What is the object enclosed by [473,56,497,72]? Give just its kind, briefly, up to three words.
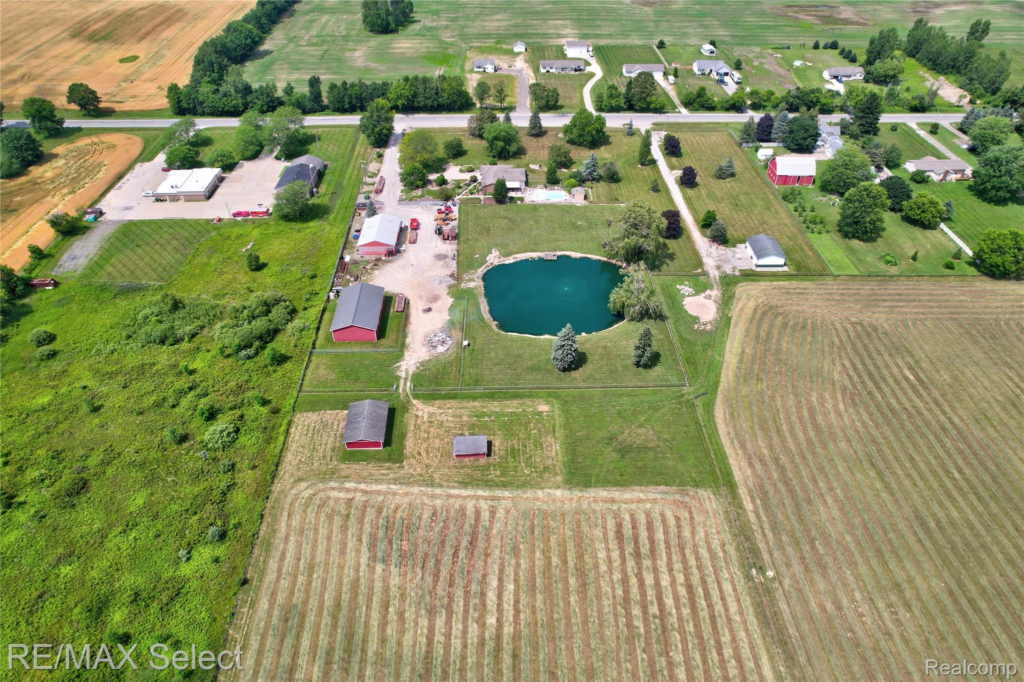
house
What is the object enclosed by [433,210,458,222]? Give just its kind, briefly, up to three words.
vehicle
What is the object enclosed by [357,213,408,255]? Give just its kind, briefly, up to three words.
barn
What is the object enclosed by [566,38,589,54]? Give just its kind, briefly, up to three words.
building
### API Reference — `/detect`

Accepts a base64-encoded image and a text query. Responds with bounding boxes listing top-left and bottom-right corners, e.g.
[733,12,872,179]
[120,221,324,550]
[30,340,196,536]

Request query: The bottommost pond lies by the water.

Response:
[482,254,631,337]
